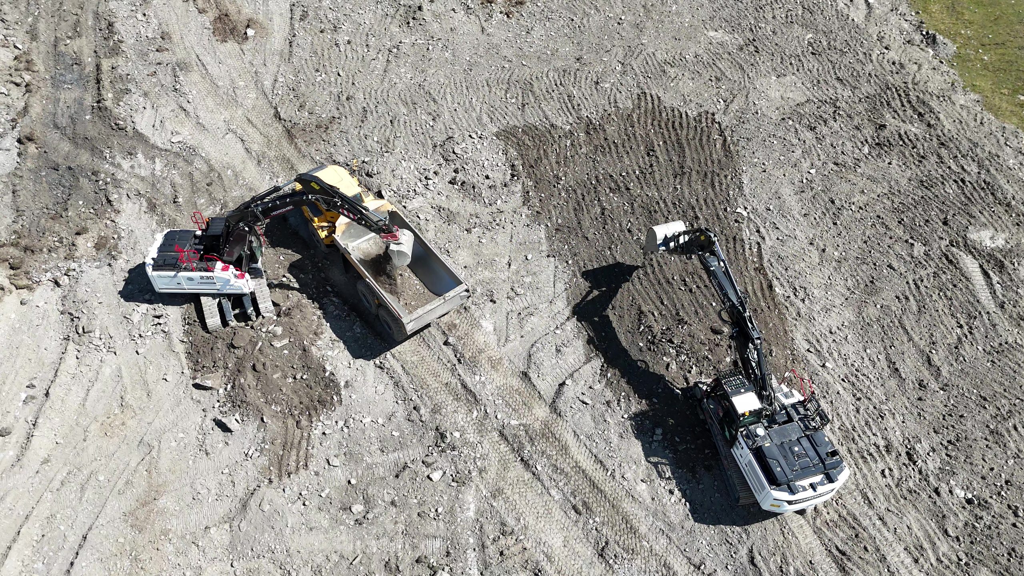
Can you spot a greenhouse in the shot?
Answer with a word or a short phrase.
No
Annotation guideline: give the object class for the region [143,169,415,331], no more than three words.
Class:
work vehicle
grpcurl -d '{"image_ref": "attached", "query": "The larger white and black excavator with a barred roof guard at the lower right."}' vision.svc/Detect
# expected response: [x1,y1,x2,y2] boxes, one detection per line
[644,221,855,513]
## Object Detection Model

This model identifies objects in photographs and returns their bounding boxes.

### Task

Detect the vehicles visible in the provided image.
[644,221,855,513]
[290,161,474,351]
[143,169,415,331]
